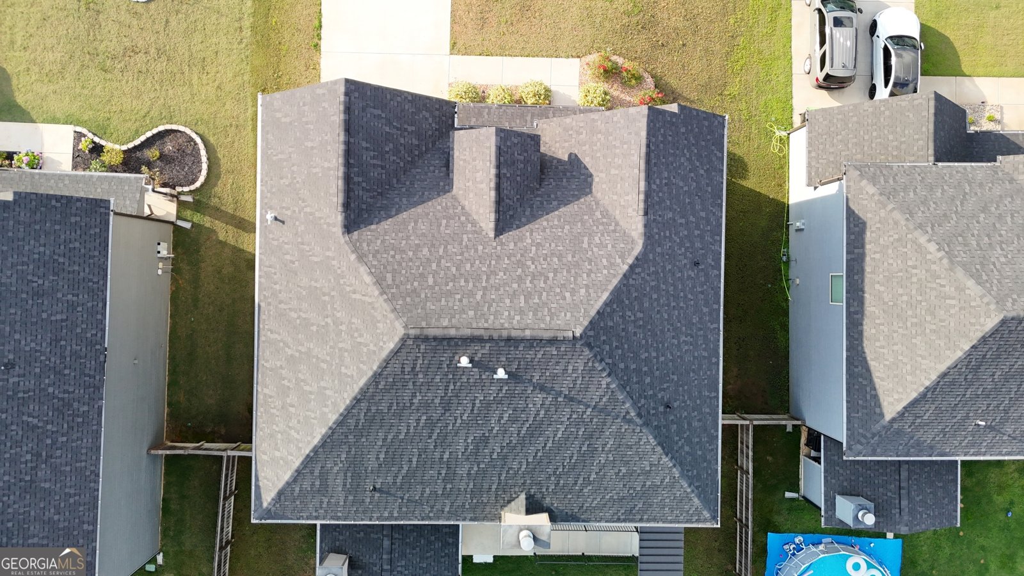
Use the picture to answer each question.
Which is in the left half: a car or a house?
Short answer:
house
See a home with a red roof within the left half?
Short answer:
No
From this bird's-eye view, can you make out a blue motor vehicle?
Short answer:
No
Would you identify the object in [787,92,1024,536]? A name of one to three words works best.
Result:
house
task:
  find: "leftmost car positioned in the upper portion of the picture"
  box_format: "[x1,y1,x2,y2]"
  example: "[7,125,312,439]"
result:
[802,0,866,92]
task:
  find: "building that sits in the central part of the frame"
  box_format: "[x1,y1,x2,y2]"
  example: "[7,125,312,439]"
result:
[251,76,728,576]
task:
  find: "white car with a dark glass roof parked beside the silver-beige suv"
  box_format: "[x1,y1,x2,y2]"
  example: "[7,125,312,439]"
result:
[866,5,928,101]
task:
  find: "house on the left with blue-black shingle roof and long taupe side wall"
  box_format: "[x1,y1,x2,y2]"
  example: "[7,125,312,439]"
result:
[0,163,185,576]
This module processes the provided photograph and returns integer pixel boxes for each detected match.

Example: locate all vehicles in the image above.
[802,0,866,92]
[866,5,928,101]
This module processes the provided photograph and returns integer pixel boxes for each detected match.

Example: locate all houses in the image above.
[251,76,728,576]
[787,92,1024,536]
[0,163,185,576]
